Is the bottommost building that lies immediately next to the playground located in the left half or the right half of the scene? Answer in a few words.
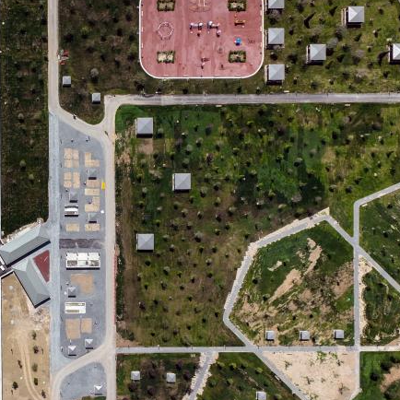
right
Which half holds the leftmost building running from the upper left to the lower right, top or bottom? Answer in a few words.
bottom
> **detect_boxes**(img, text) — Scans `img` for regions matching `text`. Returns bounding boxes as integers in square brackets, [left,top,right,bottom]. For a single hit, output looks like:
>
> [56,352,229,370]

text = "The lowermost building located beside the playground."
[265,65,285,84]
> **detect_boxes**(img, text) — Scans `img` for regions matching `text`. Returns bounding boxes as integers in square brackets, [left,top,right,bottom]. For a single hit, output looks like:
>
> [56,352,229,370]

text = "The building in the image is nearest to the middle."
[172,173,190,191]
